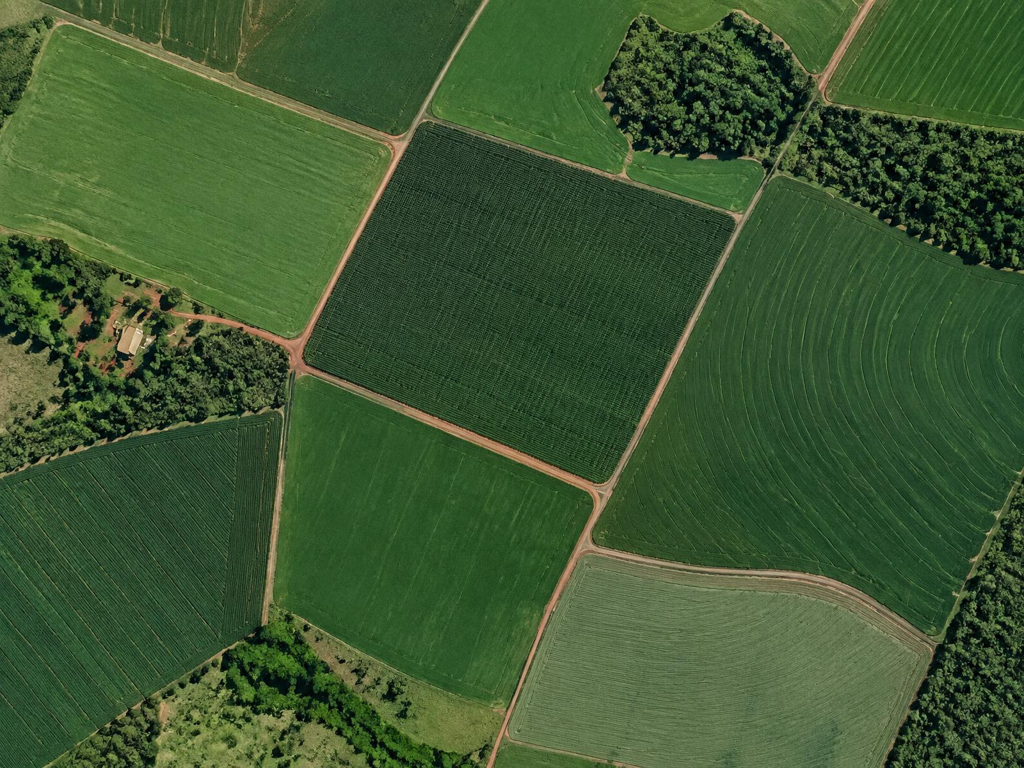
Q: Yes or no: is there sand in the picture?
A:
No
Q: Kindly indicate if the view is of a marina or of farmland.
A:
farmland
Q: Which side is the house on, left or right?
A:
left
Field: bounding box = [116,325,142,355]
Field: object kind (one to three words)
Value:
house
